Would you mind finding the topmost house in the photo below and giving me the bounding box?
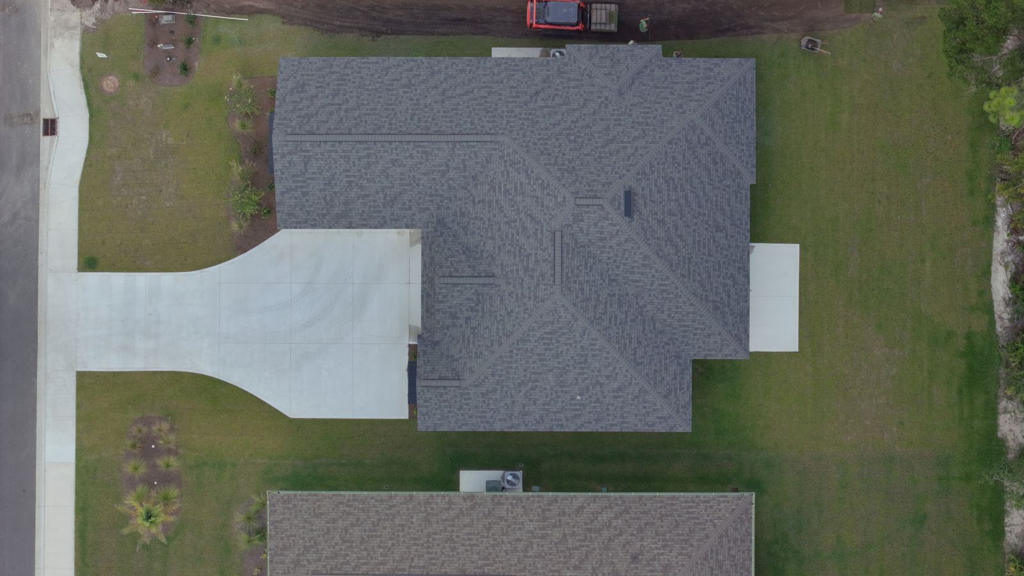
[270,44,756,431]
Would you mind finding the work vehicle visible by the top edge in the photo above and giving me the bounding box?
[526,0,592,39]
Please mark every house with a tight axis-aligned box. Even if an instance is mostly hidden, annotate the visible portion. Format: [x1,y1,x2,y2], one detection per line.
[270,44,756,431]
[268,490,755,576]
